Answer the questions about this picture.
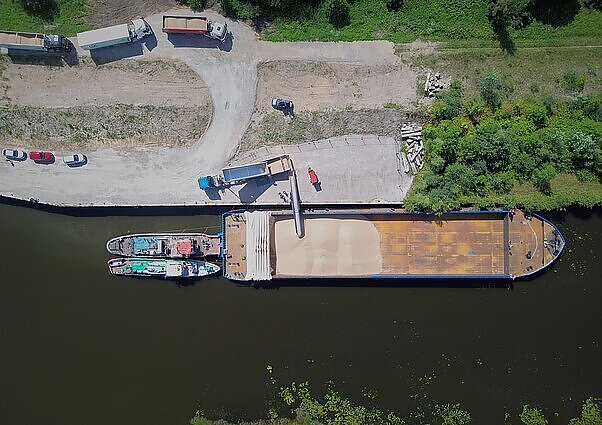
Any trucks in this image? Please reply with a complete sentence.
Yes, I can see a truck in this picture.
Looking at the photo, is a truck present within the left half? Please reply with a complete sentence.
Yes, you'll find a truck within the left half.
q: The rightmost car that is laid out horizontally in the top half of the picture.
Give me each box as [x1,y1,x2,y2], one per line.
[270,98,293,110]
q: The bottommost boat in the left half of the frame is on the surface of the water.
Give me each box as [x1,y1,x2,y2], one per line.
[108,257,219,277]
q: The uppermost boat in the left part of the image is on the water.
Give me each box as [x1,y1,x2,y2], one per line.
[106,232,222,259]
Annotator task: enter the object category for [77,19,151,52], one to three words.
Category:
truck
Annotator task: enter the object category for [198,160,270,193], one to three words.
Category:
truck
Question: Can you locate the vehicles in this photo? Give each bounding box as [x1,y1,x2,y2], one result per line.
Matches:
[29,152,53,162]
[162,17,228,43]
[198,160,270,193]
[307,169,320,183]
[62,153,86,163]
[270,98,293,110]
[0,31,73,55]
[1,150,26,160]
[77,19,151,52]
